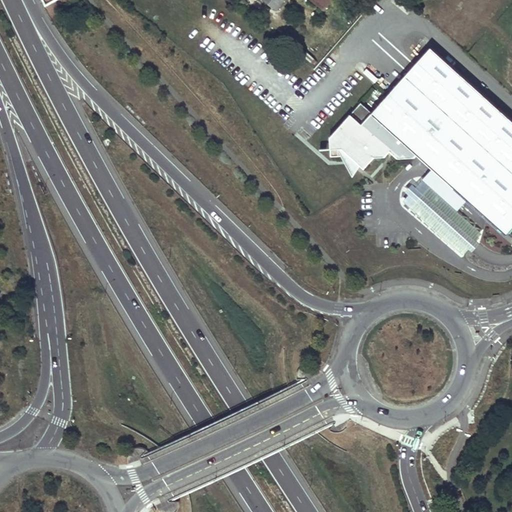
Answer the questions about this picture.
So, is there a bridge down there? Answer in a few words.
Yes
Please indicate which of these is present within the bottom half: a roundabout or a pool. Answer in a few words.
roundabout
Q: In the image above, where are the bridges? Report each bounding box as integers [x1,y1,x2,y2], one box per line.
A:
[142,380,334,503]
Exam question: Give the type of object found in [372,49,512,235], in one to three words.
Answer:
building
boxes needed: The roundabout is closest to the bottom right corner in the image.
[306,286,512,512]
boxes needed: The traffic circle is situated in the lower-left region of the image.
[0,447,170,512]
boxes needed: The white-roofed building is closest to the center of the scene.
[320,114,388,178]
